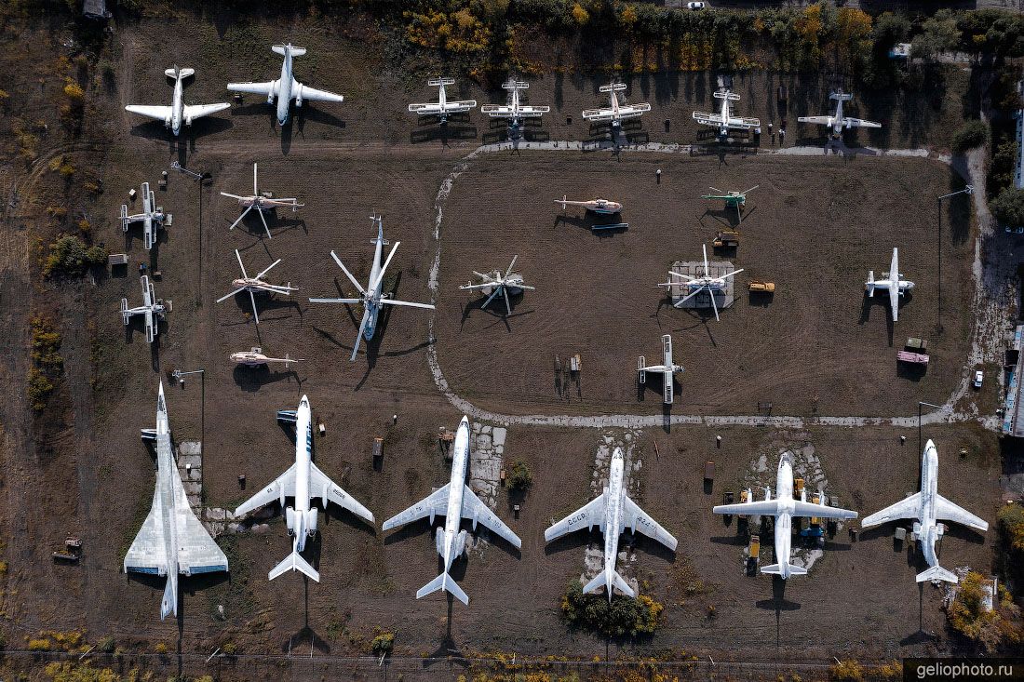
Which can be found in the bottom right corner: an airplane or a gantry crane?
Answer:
airplane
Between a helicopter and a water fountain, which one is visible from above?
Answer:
helicopter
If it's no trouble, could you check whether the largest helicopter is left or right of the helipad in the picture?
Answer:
left of it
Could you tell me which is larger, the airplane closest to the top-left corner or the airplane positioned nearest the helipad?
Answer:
the airplane closest to the top-left corner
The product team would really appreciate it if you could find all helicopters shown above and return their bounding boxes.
[217,248,299,323]
[456,254,535,315]
[656,244,745,322]
[700,187,761,225]
[552,196,622,214]
[220,161,304,238]
[232,350,298,366]
[306,208,436,362]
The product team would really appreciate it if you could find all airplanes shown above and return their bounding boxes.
[639,336,683,404]
[693,90,761,135]
[582,83,650,127]
[407,79,475,122]
[124,66,229,137]
[236,395,374,581]
[119,275,164,343]
[797,89,882,137]
[545,447,675,602]
[228,39,345,127]
[713,449,856,582]
[862,439,990,584]
[118,182,165,250]
[866,248,914,321]
[123,376,229,624]
[384,416,522,604]
[481,80,549,124]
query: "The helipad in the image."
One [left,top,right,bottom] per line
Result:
[672,262,734,308]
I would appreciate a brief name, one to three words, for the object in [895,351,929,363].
vehicle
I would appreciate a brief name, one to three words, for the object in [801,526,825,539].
vehicle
